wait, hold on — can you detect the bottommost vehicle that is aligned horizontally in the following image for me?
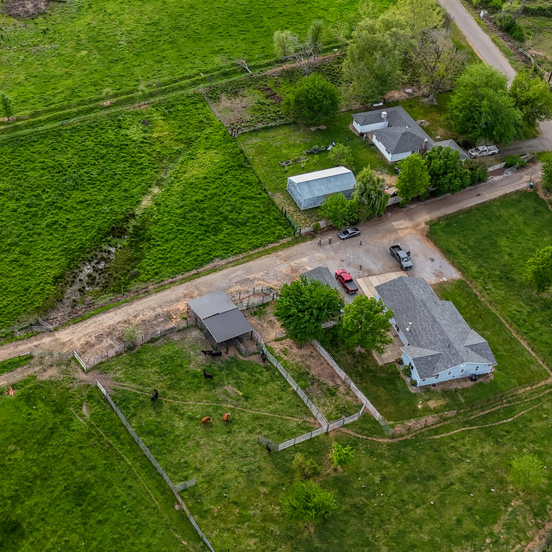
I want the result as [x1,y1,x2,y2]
[338,227,362,240]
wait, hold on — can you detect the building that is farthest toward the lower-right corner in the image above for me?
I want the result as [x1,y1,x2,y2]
[376,274,498,386]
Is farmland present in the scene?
Yes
